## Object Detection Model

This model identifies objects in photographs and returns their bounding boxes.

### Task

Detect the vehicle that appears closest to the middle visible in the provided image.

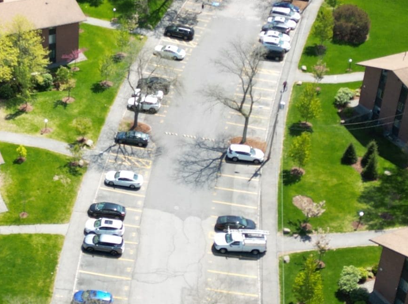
[226,143,265,165]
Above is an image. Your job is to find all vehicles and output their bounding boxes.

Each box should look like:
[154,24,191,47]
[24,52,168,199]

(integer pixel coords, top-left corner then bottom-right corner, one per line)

[259,30,292,43]
[212,213,258,235]
[86,201,129,220]
[103,171,145,191]
[212,226,270,257]
[266,16,298,28]
[113,131,152,148]
[152,46,186,61]
[260,36,293,54]
[127,95,163,115]
[271,5,301,20]
[258,49,292,64]
[226,143,265,165]
[70,290,115,304]
[136,77,171,92]
[82,216,127,239]
[260,21,293,35]
[164,25,196,40]
[81,234,127,258]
